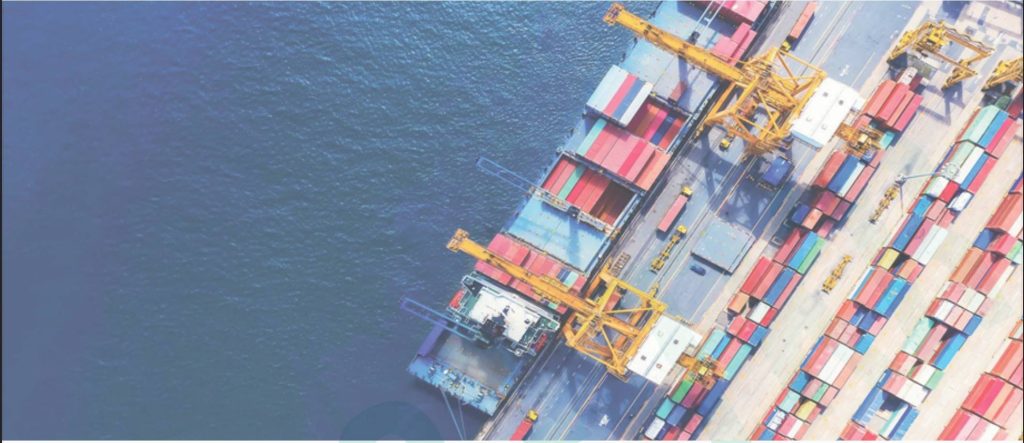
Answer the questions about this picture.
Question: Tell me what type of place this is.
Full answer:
What you see here is a port.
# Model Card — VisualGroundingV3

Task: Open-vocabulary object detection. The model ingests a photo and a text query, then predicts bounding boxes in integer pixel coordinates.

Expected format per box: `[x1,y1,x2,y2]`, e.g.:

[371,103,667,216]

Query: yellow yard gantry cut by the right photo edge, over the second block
[977,53,1024,95]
